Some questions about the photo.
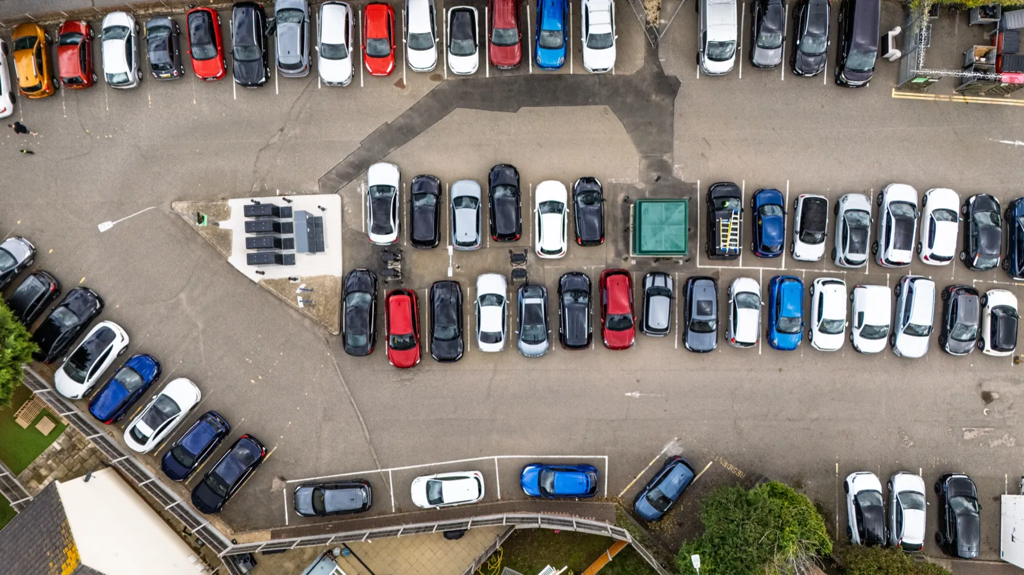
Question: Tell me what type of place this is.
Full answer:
This looks like a parking lot.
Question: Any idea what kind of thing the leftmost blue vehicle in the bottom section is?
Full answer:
What you see as the leftmost blue vehicle in the bottom section is an automobile.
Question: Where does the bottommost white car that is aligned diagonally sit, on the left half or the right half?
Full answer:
The bottommost white car that is aligned diagonally appears in the left half of the scene.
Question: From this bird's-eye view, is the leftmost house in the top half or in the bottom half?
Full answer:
The leftmost house sits in the bottom half of the picture.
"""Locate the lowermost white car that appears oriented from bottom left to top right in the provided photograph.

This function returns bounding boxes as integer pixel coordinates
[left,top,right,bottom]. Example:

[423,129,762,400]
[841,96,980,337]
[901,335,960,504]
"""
[124,379,200,455]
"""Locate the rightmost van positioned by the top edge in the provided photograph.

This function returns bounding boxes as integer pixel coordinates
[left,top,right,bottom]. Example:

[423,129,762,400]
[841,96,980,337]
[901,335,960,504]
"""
[837,0,885,88]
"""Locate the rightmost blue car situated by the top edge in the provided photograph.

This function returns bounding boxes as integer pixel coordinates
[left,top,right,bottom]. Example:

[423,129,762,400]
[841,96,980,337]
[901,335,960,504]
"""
[532,0,571,70]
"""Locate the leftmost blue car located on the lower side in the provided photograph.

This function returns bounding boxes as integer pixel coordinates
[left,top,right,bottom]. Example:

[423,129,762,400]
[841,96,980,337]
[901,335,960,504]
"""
[88,354,161,426]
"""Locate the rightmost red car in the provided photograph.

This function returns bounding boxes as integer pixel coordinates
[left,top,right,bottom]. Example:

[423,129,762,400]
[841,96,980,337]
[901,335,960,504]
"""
[599,270,639,350]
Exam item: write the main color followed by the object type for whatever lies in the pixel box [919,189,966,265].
white car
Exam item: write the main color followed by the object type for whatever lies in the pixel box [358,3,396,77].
red car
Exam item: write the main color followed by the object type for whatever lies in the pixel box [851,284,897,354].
white van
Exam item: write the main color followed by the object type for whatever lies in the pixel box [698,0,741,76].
white van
